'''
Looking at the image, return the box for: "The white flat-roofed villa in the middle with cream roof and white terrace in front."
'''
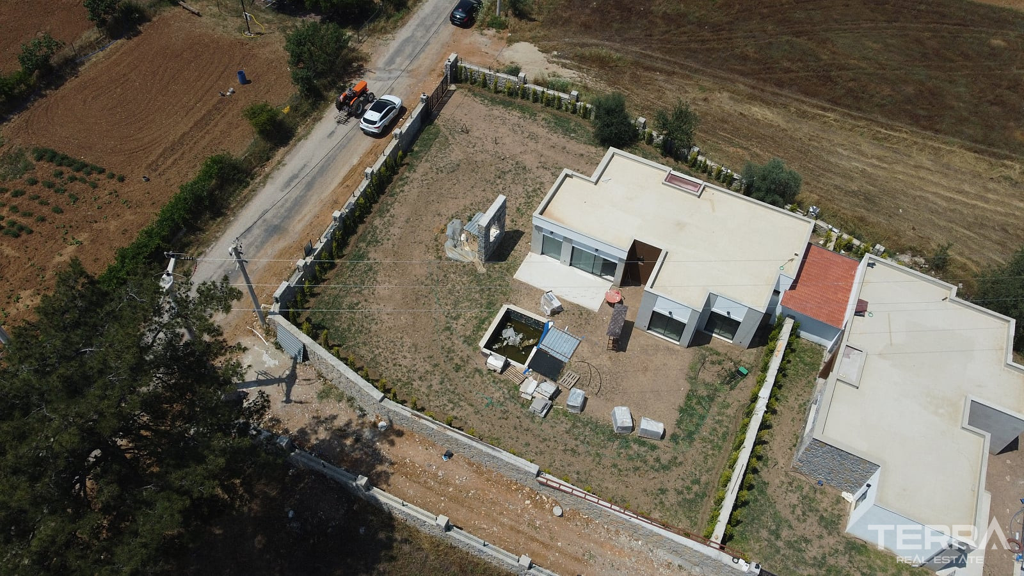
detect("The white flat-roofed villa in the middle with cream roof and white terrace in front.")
[530,147,816,348]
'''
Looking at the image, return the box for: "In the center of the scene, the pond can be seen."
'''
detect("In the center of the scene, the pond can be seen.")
[481,301,552,369]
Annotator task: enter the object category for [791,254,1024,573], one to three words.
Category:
house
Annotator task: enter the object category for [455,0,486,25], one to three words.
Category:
car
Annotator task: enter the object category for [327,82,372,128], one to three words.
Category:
work vehicle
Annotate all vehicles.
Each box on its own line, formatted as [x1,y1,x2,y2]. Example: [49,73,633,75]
[360,94,404,133]
[455,0,486,25]
[327,82,372,128]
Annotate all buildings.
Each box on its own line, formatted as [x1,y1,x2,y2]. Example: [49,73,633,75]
[530,147,816,348]
[791,254,1024,573]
